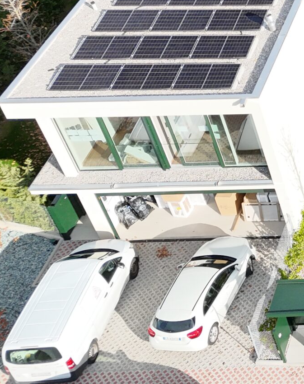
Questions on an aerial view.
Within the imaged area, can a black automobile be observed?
No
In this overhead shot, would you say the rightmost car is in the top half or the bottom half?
bottom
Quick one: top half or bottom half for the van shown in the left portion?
bottom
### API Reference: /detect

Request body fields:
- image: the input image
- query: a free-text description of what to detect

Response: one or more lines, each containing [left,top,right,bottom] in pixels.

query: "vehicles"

[142,245,251,360]
[2,244,139,384]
